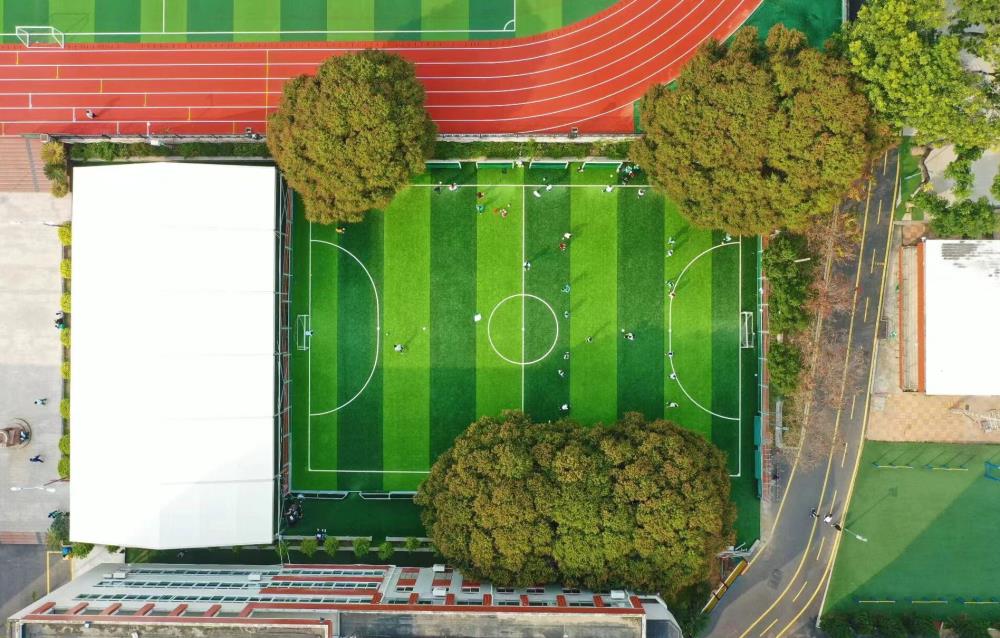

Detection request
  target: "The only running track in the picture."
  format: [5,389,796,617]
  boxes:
[0,0,767,141]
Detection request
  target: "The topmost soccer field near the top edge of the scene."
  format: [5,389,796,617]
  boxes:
[0,0,624,44]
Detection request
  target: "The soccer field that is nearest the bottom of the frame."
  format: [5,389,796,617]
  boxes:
[290,166,758,492]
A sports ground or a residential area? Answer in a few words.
sports ground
